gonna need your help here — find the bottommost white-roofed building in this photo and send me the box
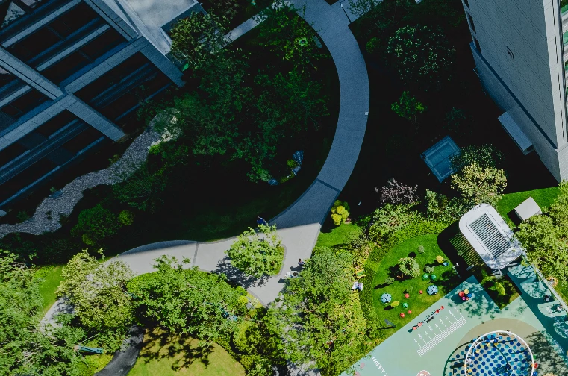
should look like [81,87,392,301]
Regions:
[460,201,526,273]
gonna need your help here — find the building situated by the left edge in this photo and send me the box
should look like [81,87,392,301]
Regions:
[0,0,183,203]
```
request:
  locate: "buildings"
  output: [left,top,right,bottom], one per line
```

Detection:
[0,0,183,203]
[460,201,526,273]
[451,0,568,183]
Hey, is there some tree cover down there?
Yes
